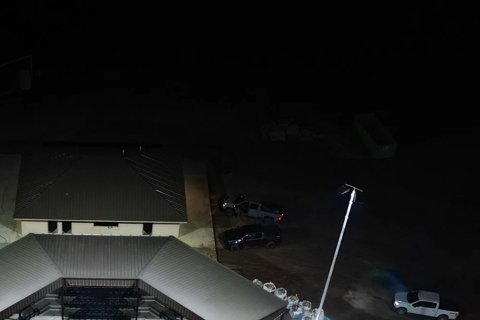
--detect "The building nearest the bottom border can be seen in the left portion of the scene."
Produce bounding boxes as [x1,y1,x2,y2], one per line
[13,130,188,237]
